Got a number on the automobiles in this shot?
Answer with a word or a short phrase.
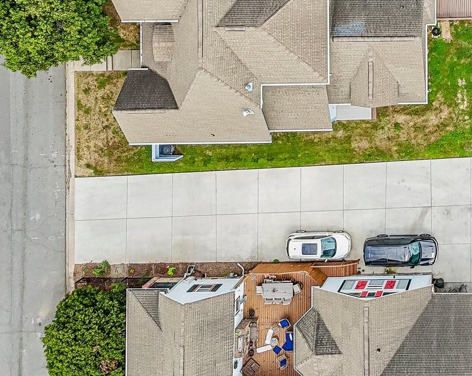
2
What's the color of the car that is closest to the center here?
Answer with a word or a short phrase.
white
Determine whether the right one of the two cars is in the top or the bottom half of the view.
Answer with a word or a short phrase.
bottom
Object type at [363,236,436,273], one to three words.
car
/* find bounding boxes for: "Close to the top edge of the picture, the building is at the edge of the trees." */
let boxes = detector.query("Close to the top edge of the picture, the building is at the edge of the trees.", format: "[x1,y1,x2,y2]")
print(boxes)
[111,0,437,148]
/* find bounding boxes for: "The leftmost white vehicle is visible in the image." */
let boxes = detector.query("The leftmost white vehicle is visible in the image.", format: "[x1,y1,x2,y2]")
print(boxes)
[284,231,348,264]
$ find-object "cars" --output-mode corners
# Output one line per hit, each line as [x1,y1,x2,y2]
[363,236,436,273]
[284,231,348,264]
